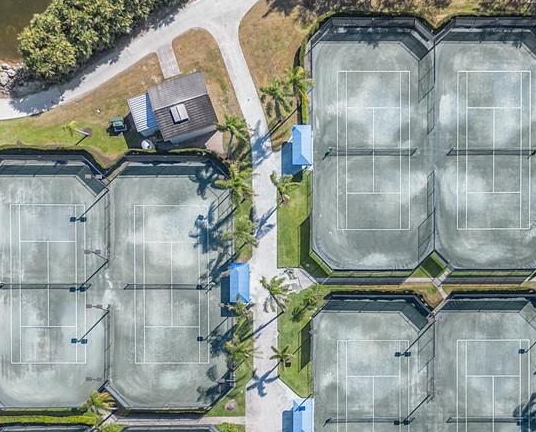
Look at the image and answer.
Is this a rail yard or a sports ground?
sports ground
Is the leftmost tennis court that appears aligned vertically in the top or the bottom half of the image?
bottom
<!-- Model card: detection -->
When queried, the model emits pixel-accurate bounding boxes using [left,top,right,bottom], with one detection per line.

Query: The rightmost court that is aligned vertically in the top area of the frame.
[434,27,536,269]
